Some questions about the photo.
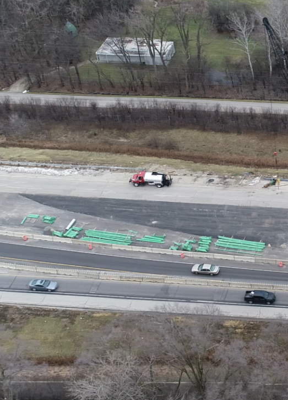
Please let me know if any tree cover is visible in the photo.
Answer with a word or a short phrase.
Yes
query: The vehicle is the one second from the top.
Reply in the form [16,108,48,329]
[191,264,220,276]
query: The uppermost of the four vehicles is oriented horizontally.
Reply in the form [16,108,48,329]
[130,171,173,187]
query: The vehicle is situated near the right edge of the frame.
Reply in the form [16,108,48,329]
[242,288,278,305]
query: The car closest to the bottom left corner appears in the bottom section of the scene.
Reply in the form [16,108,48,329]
[26,279,58,293]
